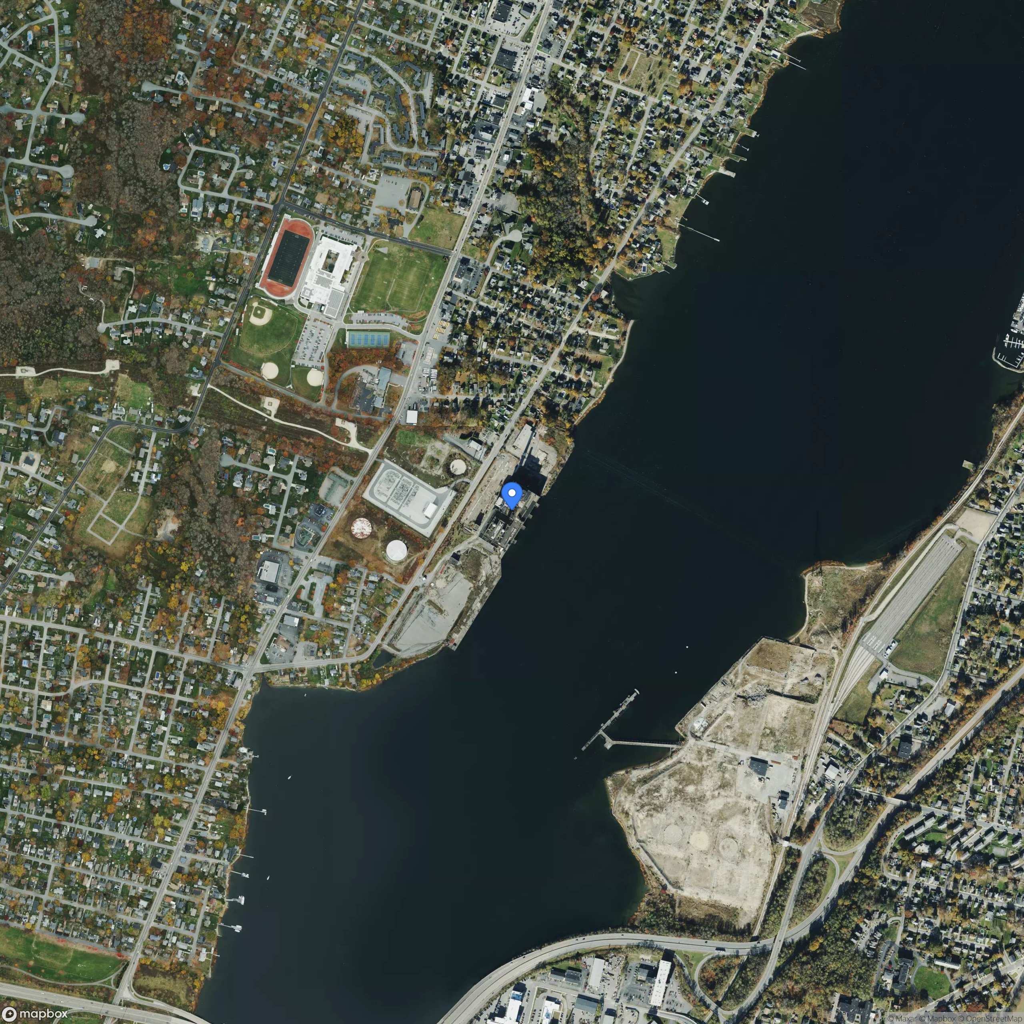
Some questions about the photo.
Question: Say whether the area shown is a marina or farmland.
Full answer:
It's a marina.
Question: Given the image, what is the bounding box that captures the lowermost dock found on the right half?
[582,693,681,750]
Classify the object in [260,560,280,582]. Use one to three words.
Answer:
building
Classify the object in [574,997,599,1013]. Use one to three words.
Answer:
building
